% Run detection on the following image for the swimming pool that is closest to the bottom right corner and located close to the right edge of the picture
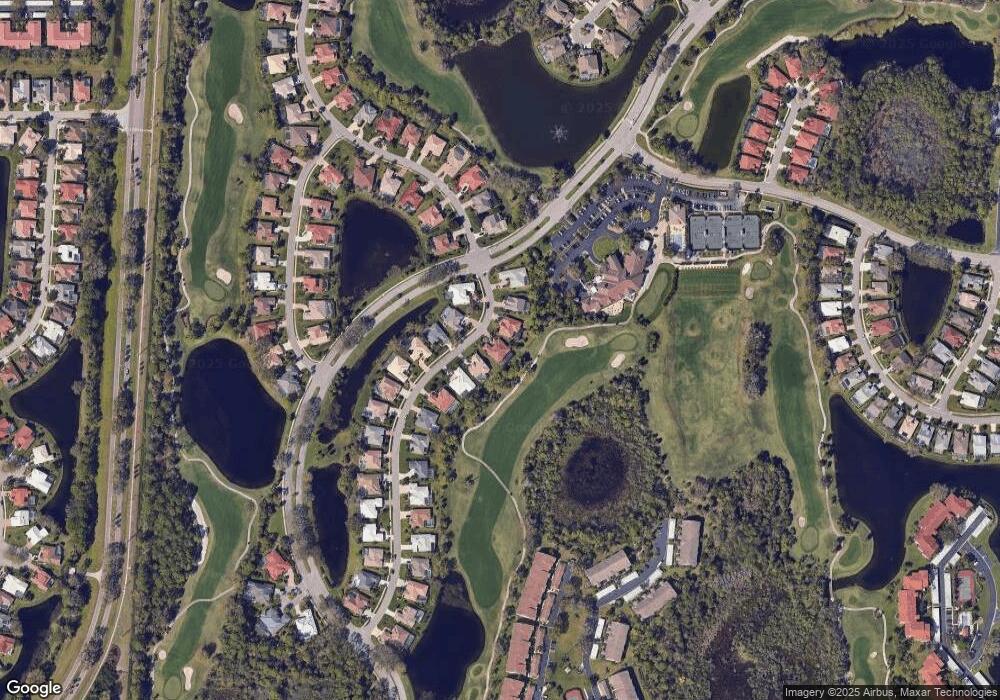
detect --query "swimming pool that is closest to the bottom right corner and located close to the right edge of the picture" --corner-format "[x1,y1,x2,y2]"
[959,611,973,630]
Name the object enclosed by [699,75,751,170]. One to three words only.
pond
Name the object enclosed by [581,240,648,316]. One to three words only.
building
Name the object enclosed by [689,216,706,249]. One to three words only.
tennis court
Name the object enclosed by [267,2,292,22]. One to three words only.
house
